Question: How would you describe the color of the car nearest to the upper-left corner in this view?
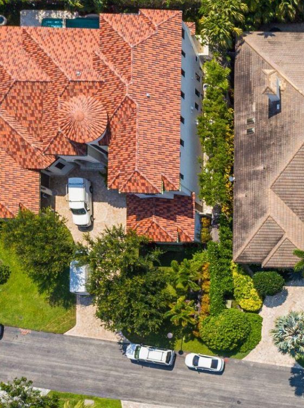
white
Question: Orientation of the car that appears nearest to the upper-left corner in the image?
from top to bottom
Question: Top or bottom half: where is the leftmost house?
top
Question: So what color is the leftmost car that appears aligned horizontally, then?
white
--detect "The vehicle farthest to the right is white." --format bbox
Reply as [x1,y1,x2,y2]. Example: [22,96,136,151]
[186,353,226,372]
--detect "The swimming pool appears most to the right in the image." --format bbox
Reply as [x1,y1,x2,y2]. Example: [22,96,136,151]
[65,15,100,27]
